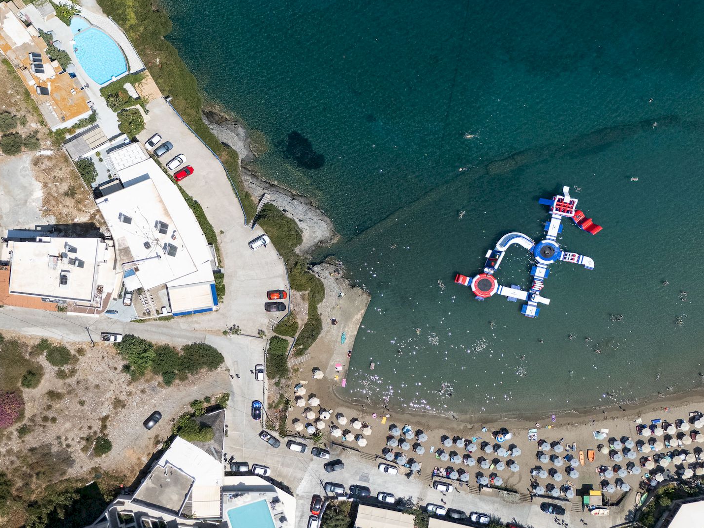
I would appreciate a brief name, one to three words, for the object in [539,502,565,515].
vehicle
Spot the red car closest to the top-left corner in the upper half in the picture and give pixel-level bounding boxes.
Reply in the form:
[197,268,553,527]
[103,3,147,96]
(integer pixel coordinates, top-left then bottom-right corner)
[173,165,194,181]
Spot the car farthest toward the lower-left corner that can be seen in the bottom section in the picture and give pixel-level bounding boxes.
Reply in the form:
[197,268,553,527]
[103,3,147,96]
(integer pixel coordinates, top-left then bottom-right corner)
[141,410,163,431]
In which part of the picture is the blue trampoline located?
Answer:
right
